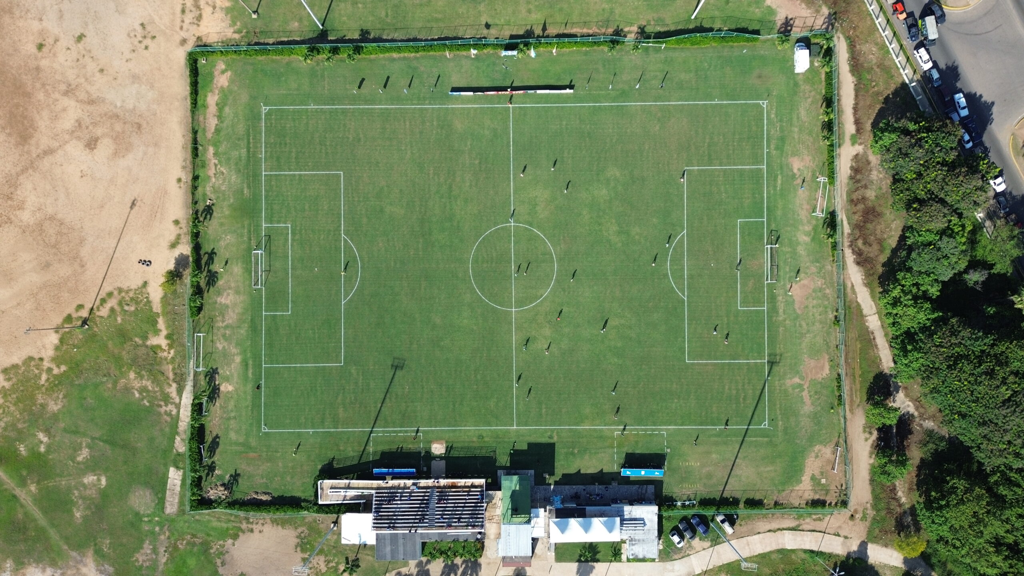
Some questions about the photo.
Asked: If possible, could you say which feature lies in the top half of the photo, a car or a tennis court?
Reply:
car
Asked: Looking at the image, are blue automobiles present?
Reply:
Yes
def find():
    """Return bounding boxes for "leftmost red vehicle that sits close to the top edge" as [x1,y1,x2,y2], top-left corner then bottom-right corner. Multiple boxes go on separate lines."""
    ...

[890,1,906,21]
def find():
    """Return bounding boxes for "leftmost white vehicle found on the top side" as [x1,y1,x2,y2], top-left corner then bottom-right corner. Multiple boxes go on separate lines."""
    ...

[793,43,811,75]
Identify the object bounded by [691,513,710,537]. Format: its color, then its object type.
blue car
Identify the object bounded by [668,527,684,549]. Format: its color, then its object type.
white car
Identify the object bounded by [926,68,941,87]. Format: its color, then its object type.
blue car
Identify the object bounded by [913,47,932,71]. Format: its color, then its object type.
white car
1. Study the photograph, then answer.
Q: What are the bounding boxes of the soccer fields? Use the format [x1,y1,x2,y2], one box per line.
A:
[258,98,772,468]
